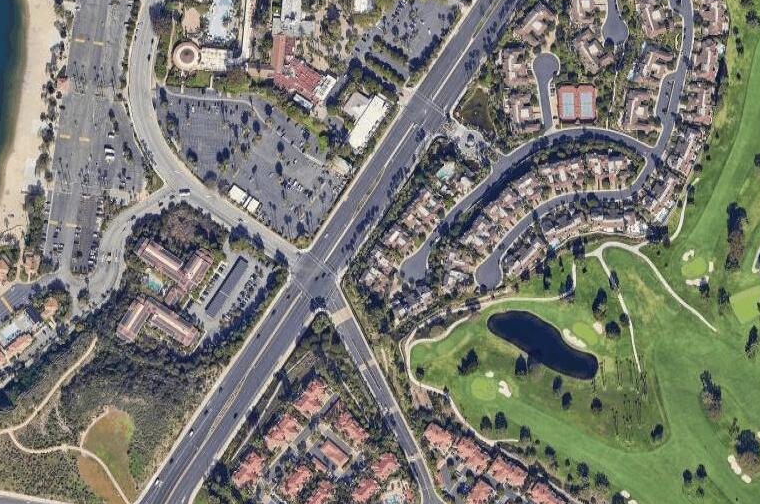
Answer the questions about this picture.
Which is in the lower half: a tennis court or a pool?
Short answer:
pool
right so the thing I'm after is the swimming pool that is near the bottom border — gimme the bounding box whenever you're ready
[383,482,408,504]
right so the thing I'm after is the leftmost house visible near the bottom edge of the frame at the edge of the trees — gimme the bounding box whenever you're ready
[231,449,268,490]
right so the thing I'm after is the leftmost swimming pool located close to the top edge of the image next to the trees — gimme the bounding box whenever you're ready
[207,0,234,41]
